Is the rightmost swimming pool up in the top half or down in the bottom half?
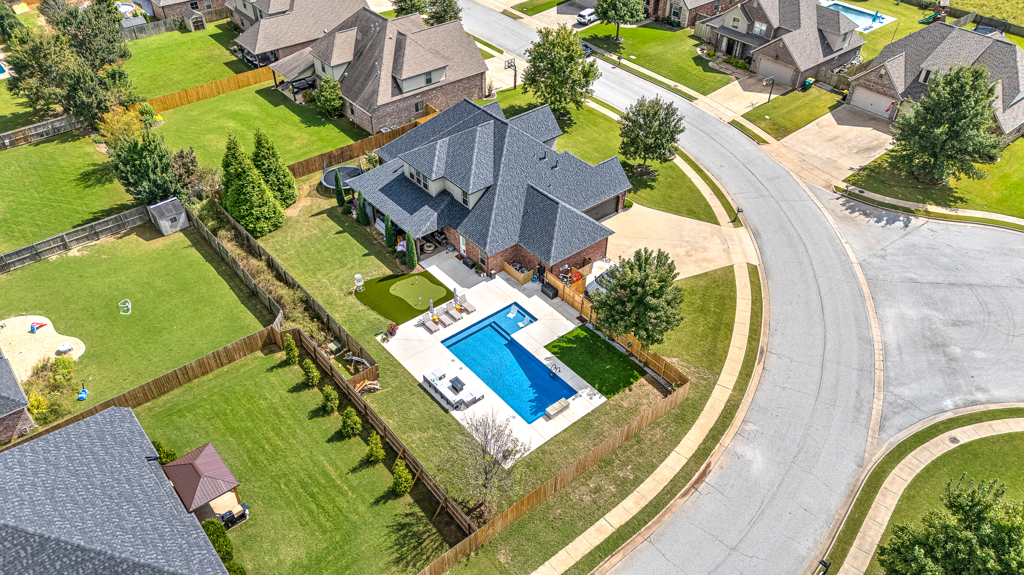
top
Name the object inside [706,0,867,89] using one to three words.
house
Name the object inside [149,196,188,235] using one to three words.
shed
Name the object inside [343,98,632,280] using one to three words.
house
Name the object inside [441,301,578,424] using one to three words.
swimming pool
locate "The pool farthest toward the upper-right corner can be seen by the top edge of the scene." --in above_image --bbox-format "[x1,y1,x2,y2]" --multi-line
[827,0,885,26]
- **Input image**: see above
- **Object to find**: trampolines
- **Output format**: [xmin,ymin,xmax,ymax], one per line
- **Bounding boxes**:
[312,148,356,189]
[978,10,1020,37]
